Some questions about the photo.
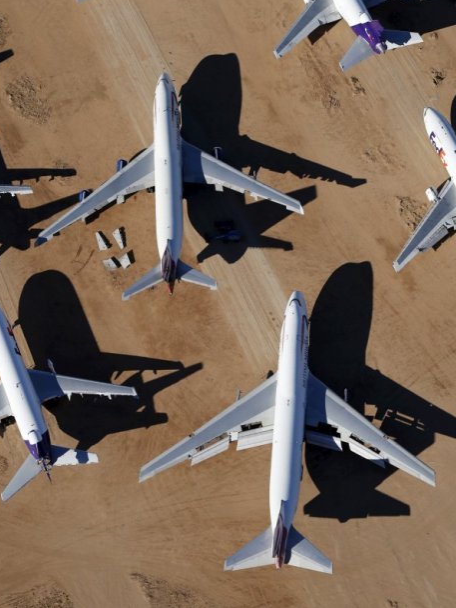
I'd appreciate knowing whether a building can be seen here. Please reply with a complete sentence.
No, there is no building in the image.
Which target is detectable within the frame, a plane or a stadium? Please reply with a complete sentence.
The one in the frame is a plane.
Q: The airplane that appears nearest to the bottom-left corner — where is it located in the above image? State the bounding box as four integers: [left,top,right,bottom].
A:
[0,310,139,502]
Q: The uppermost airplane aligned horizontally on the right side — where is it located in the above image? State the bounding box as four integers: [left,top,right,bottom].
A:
[272,0,425,69]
